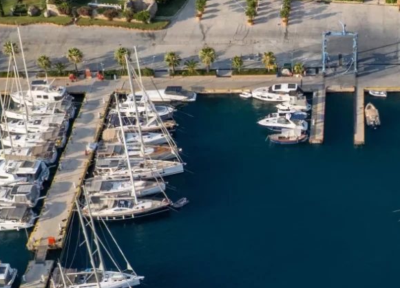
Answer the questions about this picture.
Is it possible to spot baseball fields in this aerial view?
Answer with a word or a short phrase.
No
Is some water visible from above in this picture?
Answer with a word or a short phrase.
Yes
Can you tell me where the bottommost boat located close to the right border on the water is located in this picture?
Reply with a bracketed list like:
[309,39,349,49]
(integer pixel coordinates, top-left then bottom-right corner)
[363,98,381,129]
